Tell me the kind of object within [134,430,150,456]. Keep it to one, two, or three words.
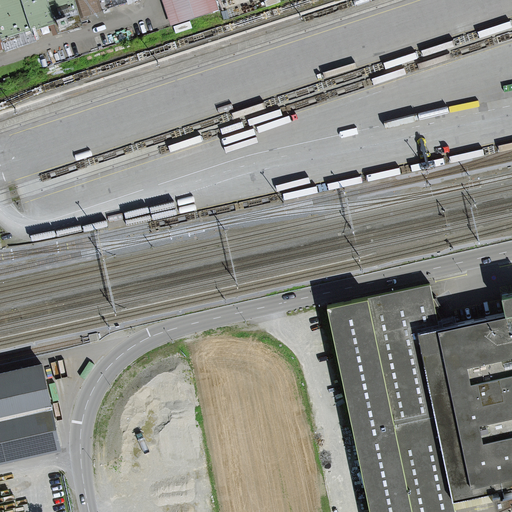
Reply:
vehicle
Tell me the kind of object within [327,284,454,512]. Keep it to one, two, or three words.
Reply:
building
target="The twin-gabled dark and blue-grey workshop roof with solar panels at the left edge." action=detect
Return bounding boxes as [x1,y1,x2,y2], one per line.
[0,360,61,462]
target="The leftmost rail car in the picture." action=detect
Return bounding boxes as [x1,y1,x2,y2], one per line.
[0,88,40,108]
